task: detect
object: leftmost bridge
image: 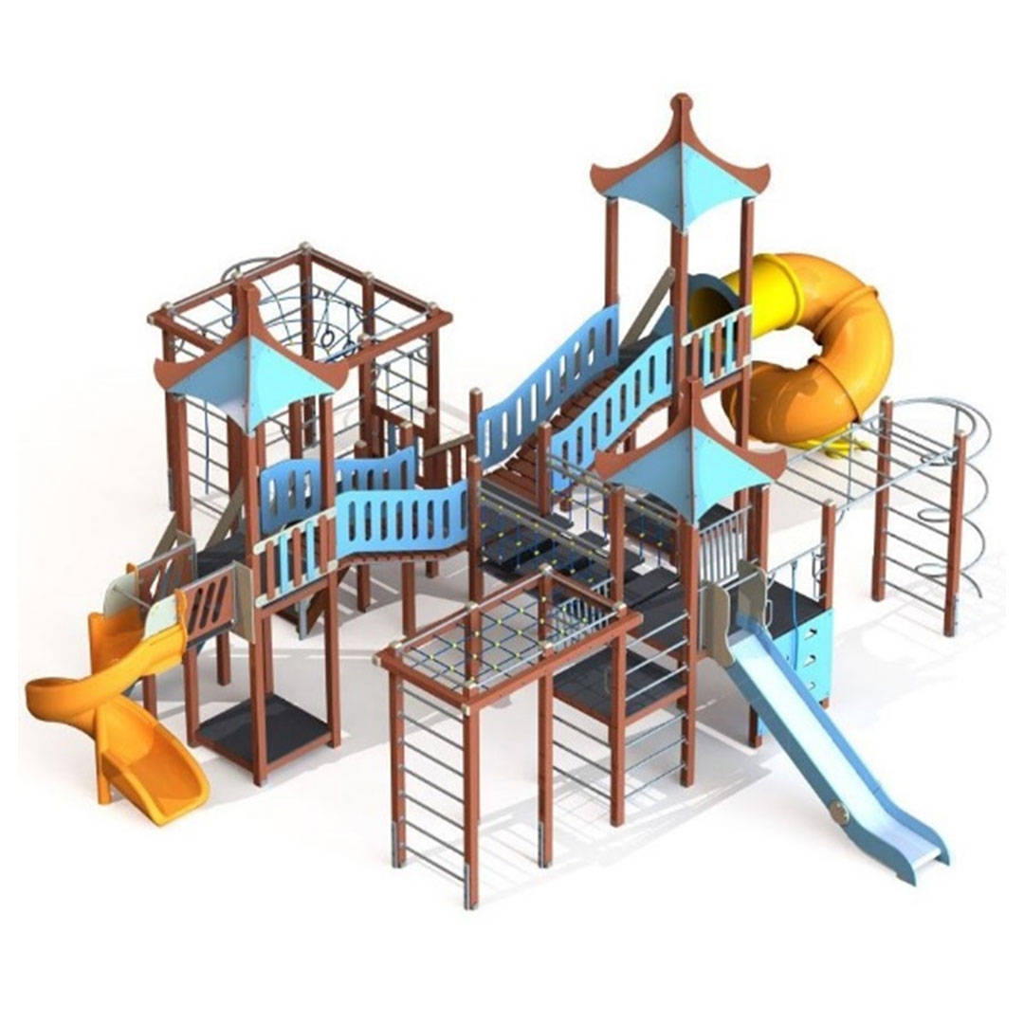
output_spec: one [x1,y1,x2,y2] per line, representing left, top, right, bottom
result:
[266,444,471,576]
